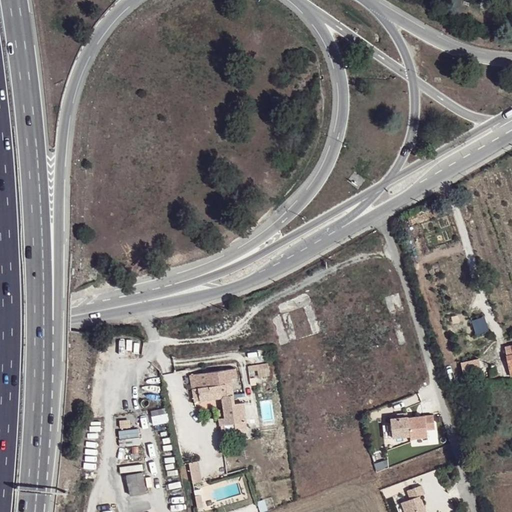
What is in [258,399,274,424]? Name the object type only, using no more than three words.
swimming pool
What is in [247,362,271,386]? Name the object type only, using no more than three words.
house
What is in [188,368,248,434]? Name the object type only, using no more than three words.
house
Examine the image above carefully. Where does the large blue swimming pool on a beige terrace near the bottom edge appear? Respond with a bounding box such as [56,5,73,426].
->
[211,482,242,502]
